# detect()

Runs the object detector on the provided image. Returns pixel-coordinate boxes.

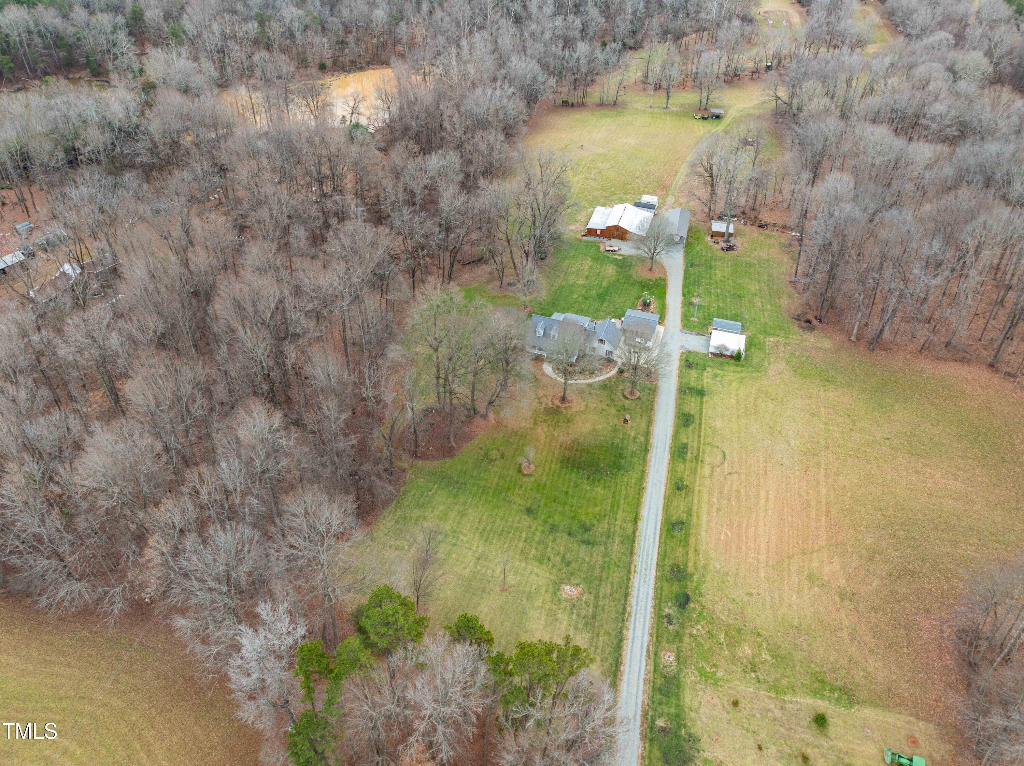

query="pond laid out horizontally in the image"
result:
[176,67,434,143]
